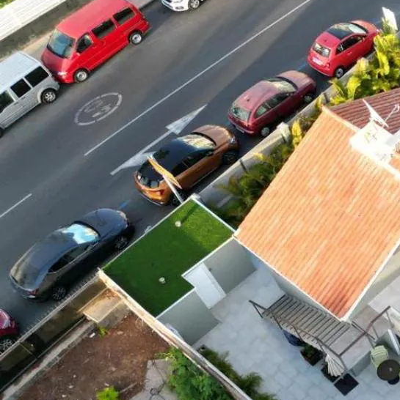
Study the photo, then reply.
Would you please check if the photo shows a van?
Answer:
Yes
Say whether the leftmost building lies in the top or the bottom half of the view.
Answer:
bottom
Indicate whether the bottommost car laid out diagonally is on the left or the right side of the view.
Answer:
left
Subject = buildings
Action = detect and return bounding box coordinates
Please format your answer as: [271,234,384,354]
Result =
[102,201,254,348]
[234,80,400,381]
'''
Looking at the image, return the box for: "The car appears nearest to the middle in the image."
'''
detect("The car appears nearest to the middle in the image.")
[131,120,236,203]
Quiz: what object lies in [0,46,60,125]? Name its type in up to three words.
van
